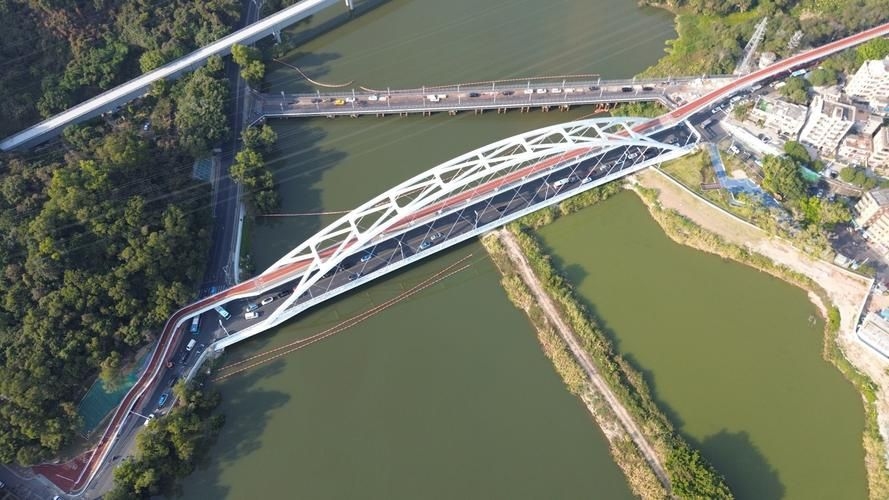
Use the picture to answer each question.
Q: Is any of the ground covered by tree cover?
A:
Yes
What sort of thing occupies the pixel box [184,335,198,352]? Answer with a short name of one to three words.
vehicle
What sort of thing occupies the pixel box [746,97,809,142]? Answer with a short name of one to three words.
house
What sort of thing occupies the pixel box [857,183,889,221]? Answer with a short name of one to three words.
building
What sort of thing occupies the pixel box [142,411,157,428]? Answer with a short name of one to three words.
car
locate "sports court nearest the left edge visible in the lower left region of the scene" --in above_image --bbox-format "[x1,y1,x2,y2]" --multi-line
[75,352,152,438]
